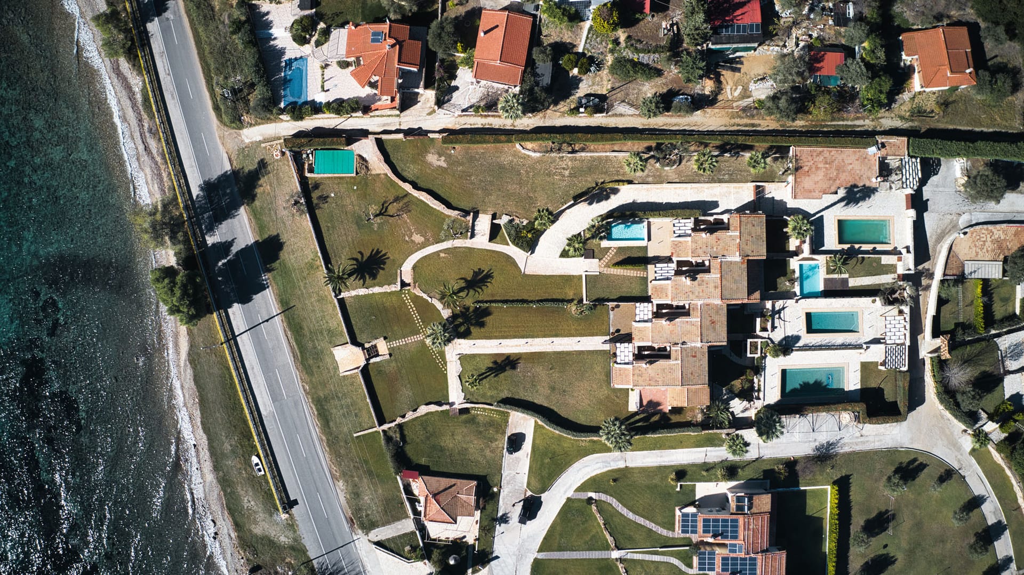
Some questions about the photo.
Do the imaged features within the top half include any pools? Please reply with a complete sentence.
Yes, within the top half there is a pool.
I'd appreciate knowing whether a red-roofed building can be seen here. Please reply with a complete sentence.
Yes, you can see a red-roofed building in this photo.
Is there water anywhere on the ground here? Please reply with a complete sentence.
Yes, water shows up in the scene.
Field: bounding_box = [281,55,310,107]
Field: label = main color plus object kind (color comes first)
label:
blue swimming pool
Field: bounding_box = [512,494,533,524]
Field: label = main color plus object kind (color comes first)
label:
black truck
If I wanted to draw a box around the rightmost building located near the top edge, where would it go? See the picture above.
[896,27,976,90]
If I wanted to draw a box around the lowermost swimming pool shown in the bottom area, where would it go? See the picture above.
[778,364,849,403]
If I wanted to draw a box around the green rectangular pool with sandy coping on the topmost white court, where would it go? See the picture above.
[835,216,895,247]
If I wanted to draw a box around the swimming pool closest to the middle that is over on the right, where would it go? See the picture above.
[608,220,648,243]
